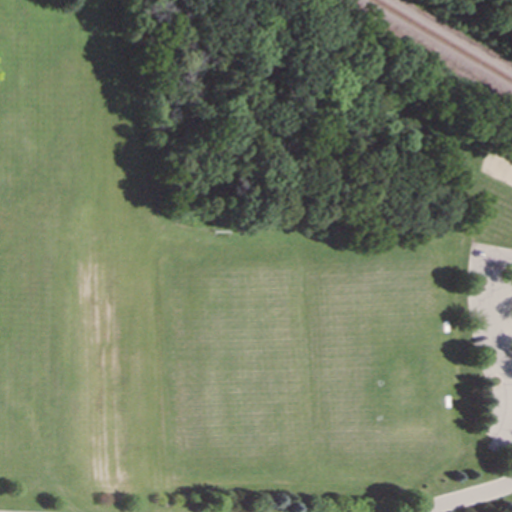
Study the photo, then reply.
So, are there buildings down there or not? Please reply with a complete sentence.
No, there is no building in the image.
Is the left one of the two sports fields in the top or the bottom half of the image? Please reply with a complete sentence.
Seen from above, the left one of the two sports fields lies in the bottom half of the view.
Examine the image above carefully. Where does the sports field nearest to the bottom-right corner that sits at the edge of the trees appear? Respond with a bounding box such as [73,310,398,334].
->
[317,250,446,464]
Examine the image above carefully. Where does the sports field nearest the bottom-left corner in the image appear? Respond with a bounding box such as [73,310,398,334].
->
[168,250,299,464]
